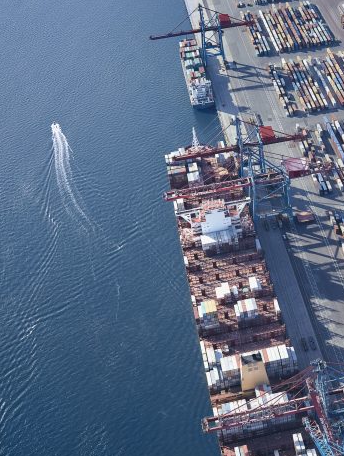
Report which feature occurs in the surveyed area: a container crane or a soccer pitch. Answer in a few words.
container crane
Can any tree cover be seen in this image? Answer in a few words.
No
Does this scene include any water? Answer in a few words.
Yes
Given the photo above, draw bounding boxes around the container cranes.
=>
[148,0,252,66]
[201,356,344,443]
[173,114,302,191]
[162,145,340,233]
[294,385,344,456]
